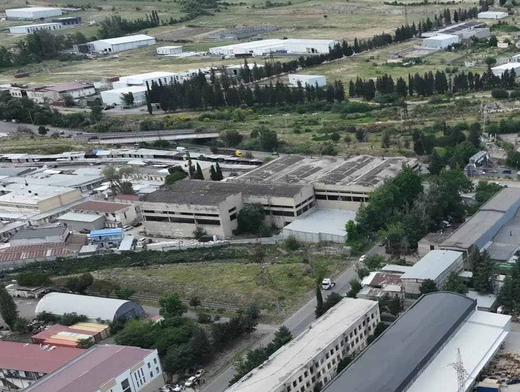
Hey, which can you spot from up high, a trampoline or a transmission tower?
transmission tower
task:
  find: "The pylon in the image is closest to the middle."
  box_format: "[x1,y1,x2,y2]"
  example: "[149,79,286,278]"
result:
[240,212,273,285]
